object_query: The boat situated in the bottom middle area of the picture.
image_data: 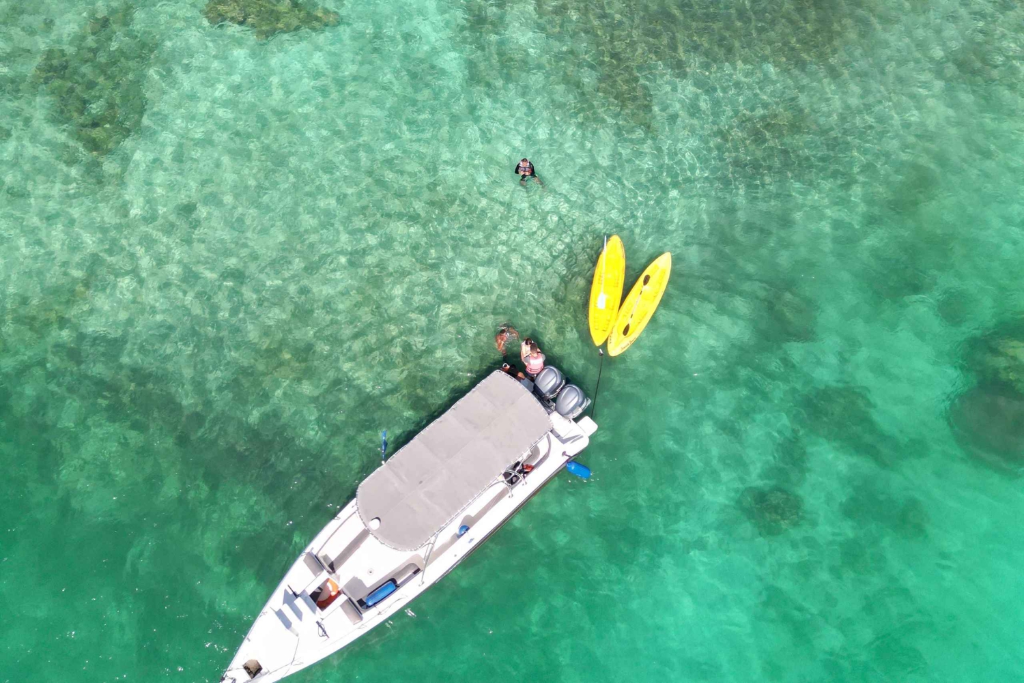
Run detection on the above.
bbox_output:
[215,368,599,683]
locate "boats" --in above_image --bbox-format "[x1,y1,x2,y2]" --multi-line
[215,368,599,683]
[610,250,674,357]
[589,233,627,346]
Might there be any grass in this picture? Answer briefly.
No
